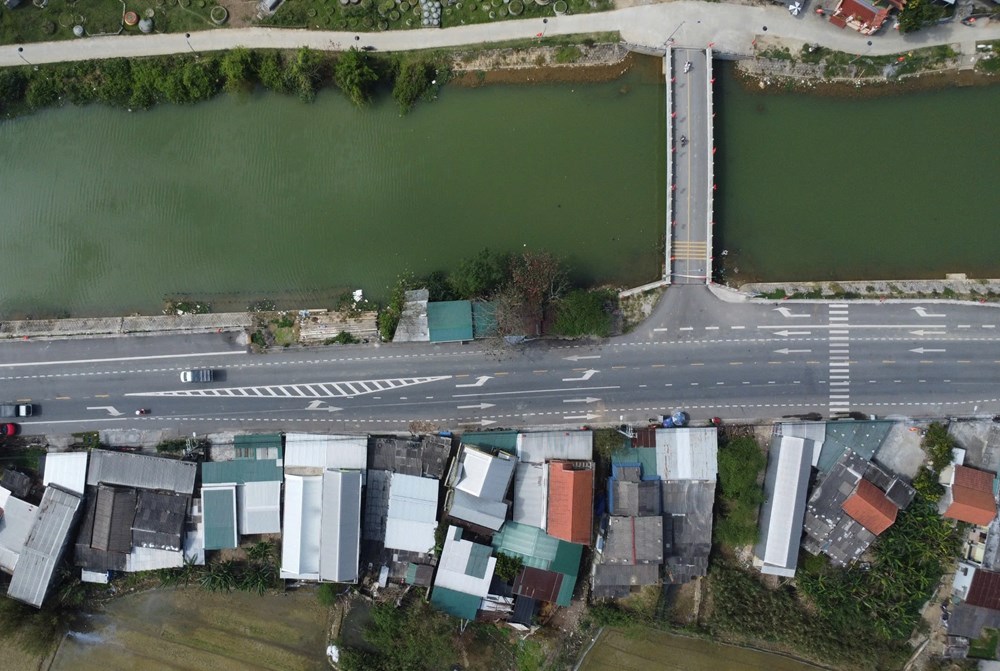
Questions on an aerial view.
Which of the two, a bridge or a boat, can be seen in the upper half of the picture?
bridge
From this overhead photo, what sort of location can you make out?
residential area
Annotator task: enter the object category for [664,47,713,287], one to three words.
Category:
bridge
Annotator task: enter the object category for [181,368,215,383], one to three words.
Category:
vehicle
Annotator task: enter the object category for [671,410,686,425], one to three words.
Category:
umbrella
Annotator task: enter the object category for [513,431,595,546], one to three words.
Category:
building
